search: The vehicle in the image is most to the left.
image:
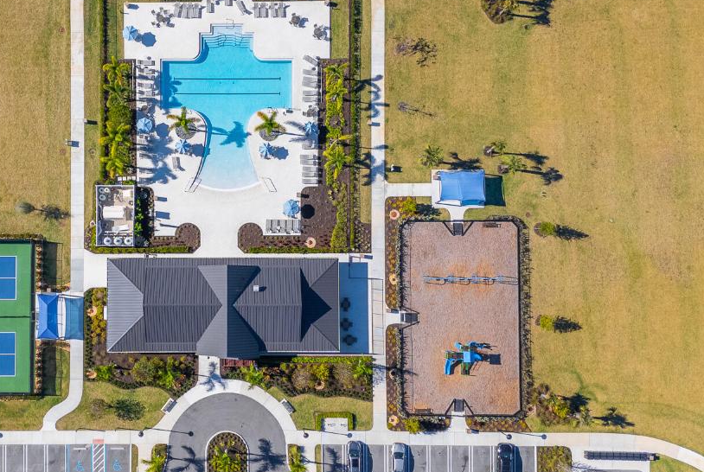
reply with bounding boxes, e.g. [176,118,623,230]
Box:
[347,439,363,472]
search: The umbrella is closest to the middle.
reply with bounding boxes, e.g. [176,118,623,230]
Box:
[285,199,300,215]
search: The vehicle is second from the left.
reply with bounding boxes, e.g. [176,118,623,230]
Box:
[391,441,407,472]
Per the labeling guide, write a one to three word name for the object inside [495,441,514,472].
car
